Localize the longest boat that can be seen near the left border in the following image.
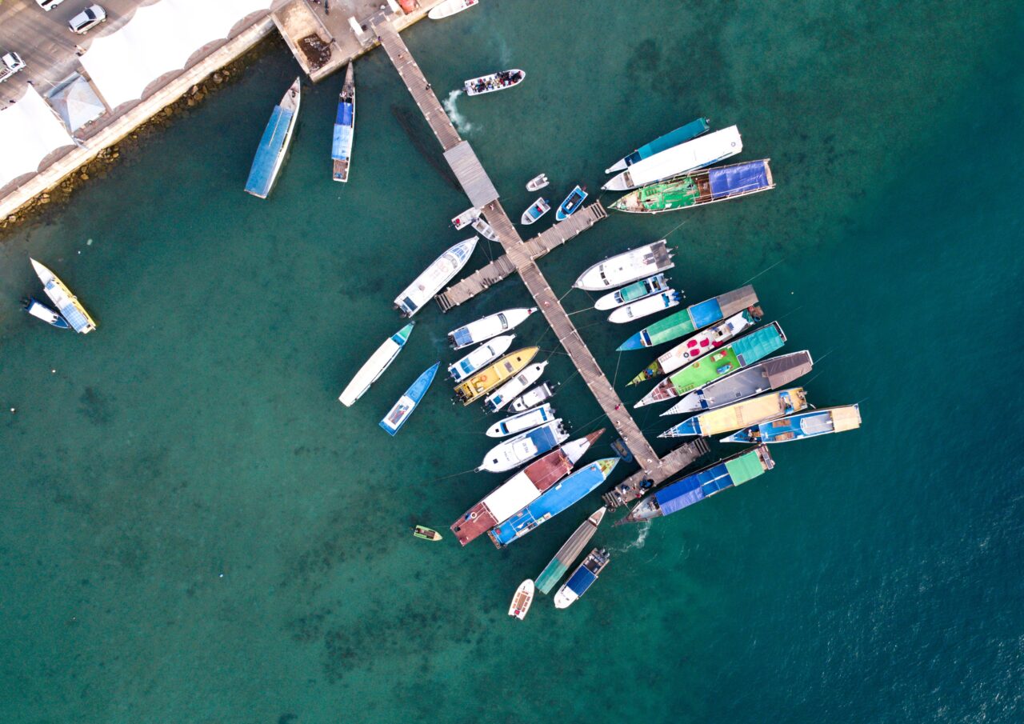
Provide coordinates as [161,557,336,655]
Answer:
[30,258,100,333]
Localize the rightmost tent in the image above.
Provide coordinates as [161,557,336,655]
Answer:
[79,0,275,112]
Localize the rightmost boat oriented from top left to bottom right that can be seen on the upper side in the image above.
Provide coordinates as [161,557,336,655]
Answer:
[472,217,498,242]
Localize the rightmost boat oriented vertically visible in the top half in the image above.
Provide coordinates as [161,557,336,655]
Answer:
[331,58,355,184]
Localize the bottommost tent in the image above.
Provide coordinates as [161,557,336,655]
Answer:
[0,85,82,197]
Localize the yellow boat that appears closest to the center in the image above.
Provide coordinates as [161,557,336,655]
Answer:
[451,346,539,404]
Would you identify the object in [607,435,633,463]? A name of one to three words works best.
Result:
boat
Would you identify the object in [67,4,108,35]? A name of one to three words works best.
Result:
car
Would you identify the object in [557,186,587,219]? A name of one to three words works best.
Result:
boat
